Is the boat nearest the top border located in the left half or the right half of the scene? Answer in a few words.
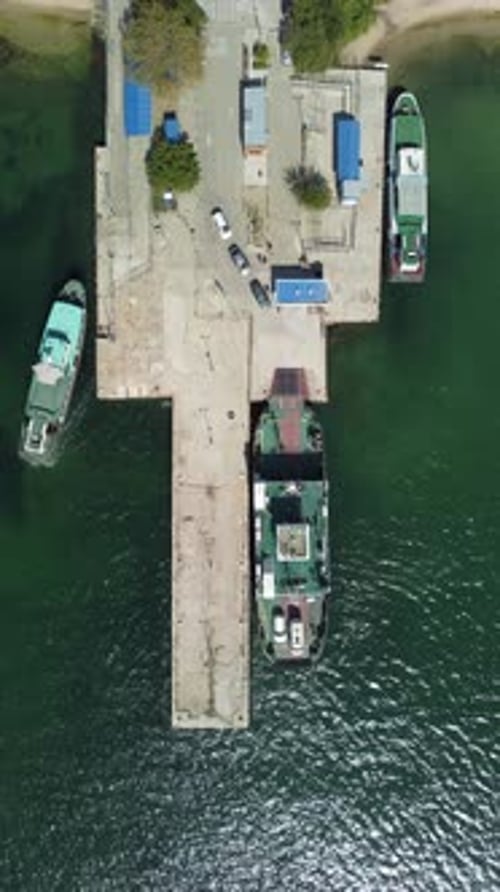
right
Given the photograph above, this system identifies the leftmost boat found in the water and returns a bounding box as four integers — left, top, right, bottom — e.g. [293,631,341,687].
[24,281,87,459]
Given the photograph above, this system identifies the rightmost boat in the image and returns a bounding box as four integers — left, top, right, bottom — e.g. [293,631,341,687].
[388,91,425,283]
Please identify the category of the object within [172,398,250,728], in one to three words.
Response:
pier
